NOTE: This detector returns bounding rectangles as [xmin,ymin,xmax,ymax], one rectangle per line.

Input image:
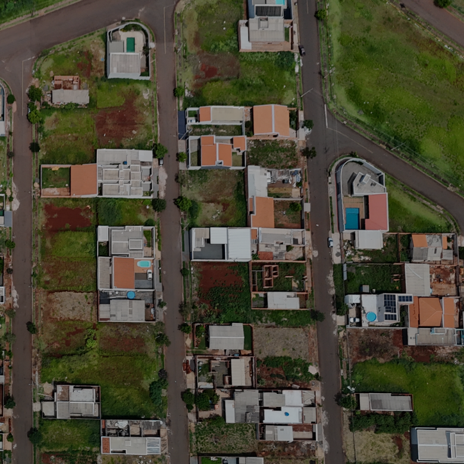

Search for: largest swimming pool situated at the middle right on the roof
[346,207,360,230]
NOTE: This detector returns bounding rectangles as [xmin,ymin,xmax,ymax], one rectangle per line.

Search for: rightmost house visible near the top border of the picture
[236,0,293,56]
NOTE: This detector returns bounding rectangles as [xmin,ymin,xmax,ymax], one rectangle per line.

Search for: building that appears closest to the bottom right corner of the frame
[410,427,464,463]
